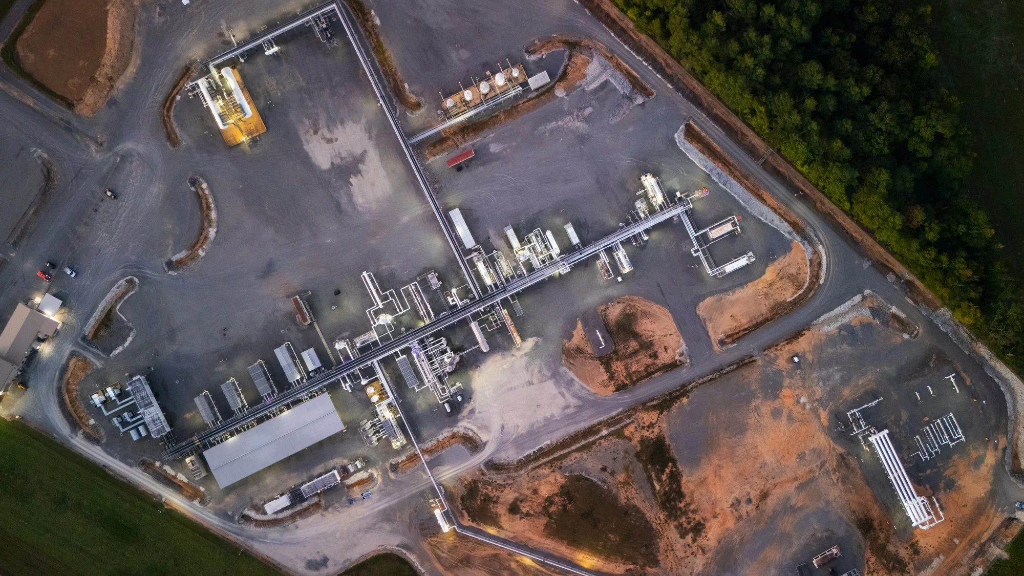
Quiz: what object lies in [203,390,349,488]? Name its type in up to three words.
building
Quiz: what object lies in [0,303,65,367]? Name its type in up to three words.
building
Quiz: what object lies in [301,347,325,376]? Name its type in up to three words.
shed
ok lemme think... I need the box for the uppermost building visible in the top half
[528,71,554,93]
